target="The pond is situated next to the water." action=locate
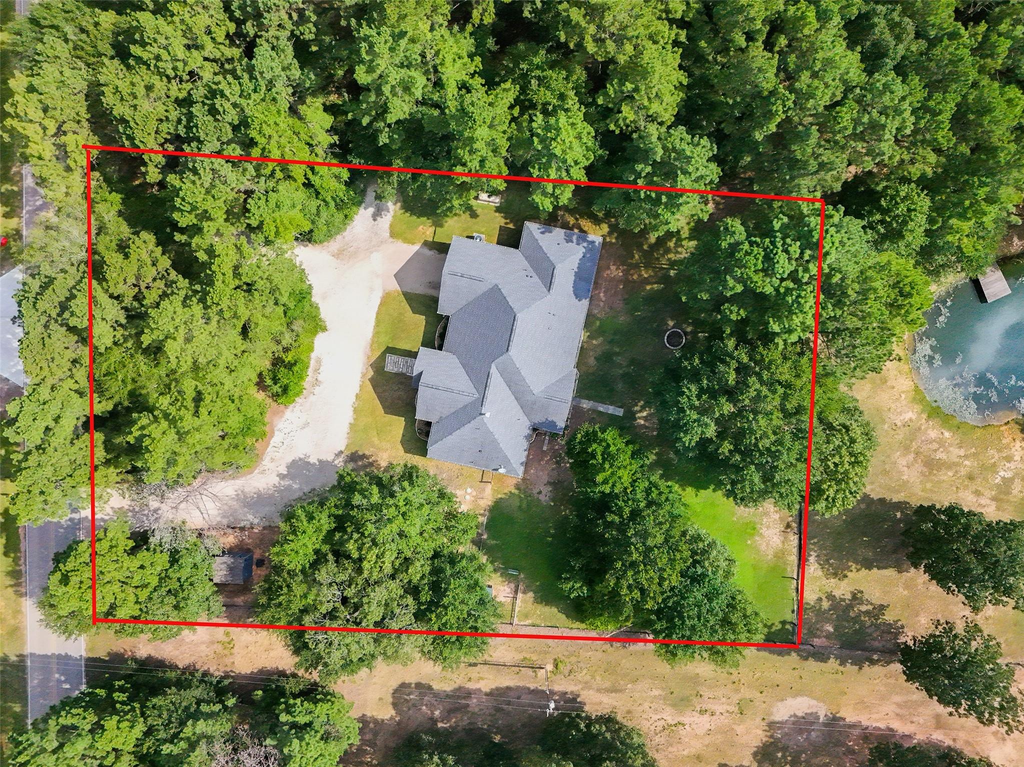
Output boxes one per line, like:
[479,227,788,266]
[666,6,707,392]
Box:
[913,261,1024,424]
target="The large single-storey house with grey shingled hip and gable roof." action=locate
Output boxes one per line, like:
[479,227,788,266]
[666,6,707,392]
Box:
[411,221,602,478]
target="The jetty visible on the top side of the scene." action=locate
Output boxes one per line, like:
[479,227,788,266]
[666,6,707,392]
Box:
[971,261,1012,303]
